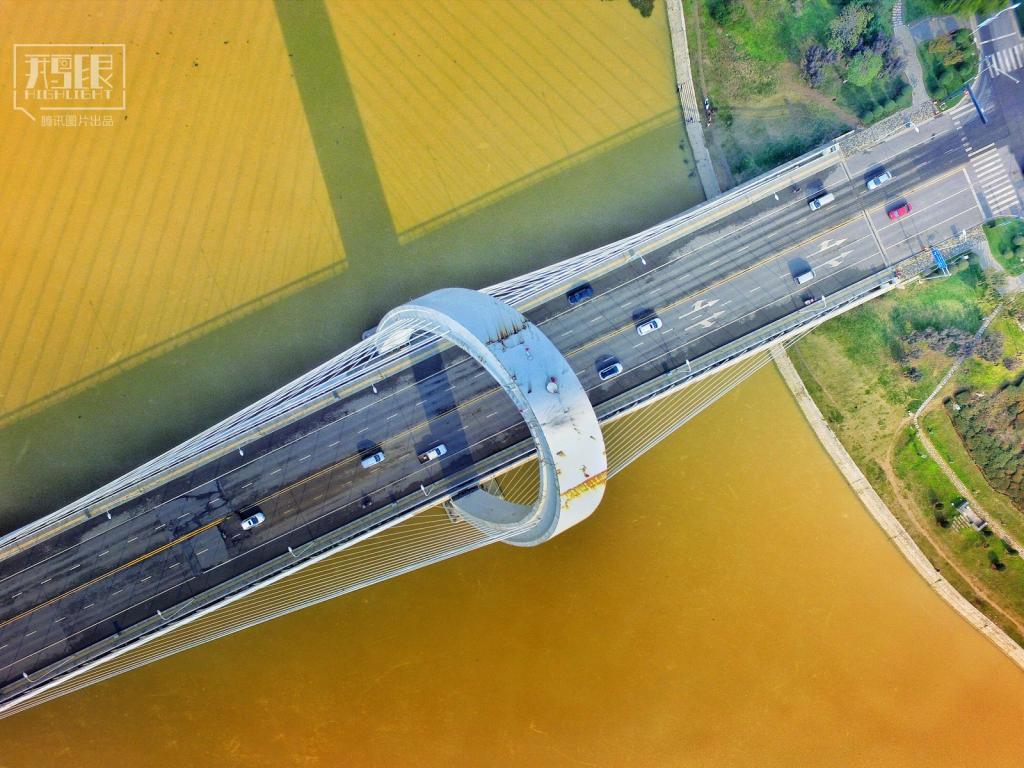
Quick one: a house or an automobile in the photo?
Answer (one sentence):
The one in the frame is an automobile.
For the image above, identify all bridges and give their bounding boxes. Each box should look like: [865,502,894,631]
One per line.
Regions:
[0,134,917,713]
